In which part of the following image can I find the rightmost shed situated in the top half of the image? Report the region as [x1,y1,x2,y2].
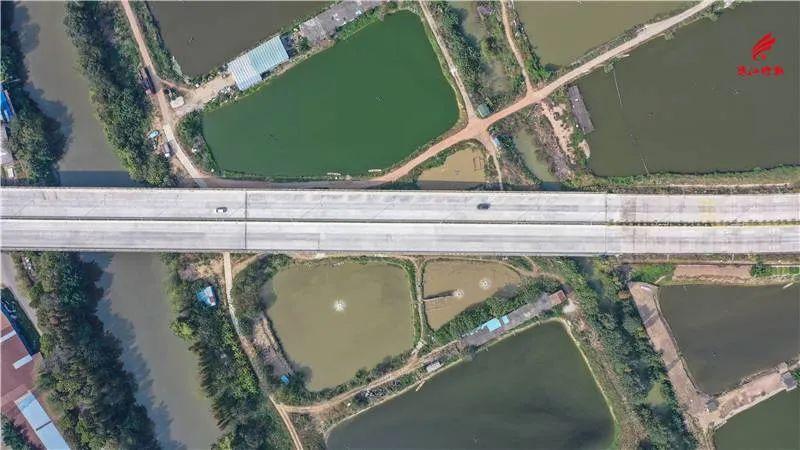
[568,85,593,133]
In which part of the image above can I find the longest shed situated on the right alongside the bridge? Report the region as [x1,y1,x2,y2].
[462,296,555,346]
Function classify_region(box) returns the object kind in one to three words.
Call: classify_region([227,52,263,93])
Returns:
shed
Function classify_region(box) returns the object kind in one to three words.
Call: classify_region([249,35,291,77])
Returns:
shed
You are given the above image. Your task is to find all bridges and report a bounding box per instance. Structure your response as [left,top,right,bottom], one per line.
[0,187,800,255]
